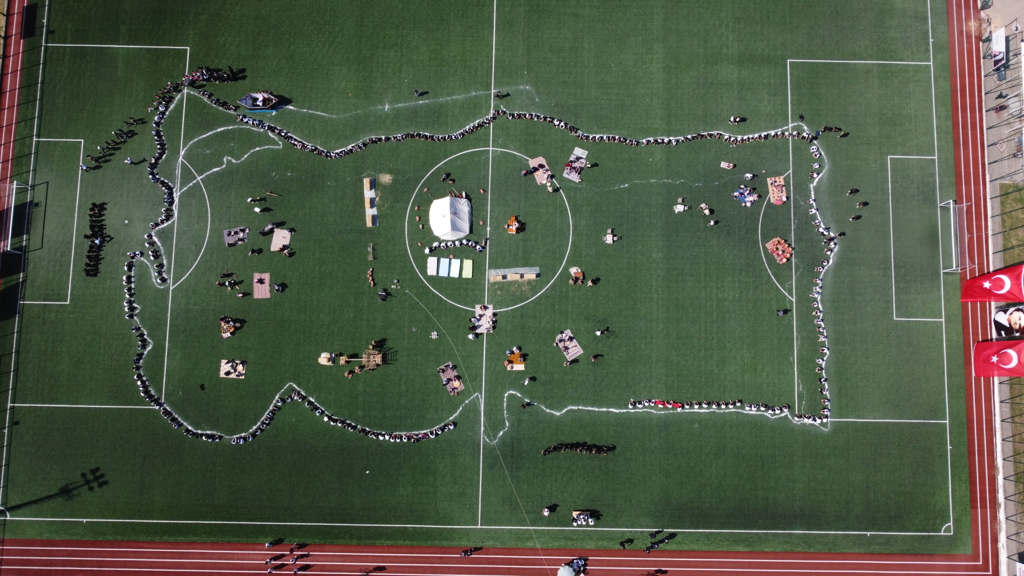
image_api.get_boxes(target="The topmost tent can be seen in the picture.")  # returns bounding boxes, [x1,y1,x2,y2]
[422,192,481,243]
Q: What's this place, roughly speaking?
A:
sports ground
